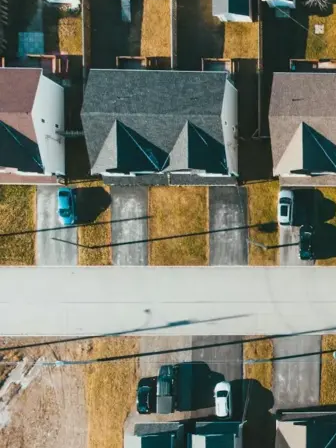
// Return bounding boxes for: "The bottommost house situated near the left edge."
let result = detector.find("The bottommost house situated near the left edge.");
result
[0,69,61,184]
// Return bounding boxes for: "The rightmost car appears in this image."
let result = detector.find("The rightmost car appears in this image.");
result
[297,225,315,260]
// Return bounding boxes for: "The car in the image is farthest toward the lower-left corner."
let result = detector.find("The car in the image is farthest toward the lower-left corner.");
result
[137,382,155,416]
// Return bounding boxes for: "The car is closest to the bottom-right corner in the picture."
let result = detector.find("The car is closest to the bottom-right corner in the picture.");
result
[213,381,232,419]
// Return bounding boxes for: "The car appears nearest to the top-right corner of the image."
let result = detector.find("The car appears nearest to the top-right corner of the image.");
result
[277,190,295,226]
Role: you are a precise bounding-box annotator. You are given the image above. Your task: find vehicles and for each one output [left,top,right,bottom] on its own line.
[277,190,295,226]
[213,381,232,419]
[155,366,177,413]
[56,188,77,224]
[297,225,315,260]
[137,382,155,416]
